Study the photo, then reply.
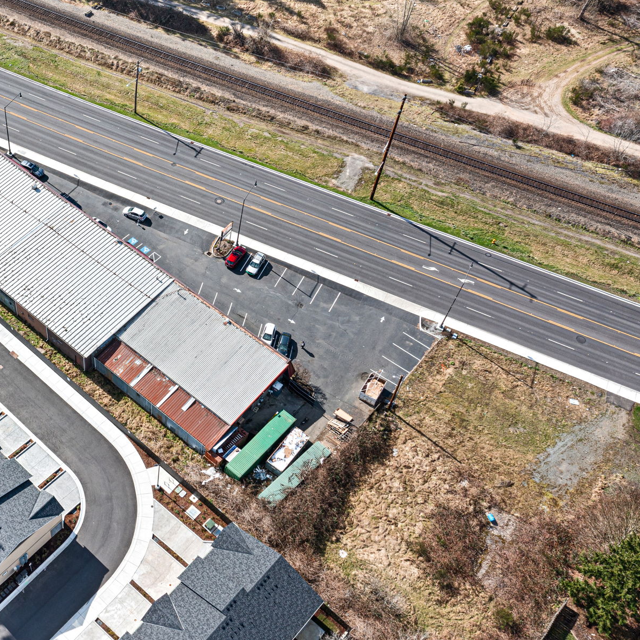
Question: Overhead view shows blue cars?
Yes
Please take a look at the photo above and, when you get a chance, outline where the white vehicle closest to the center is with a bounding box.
[262,320,278,342]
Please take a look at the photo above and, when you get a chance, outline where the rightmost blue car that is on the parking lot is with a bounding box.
[277,330,294,353]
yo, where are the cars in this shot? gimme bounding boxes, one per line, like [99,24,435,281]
[122,207,149,223]
[225,245,246,270]
[245,250,266,276]
[277,330,294,353]
[59,191,82,210]
[19,159,46,180]
[262,320,278,342]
